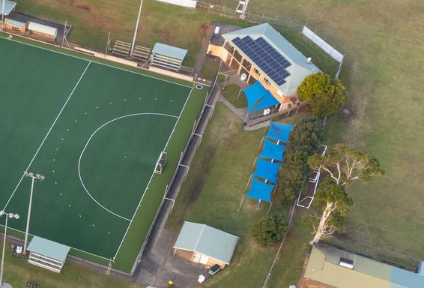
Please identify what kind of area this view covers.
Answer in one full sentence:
The picture captures a sports ground.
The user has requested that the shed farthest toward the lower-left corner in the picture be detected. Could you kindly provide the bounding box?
[172,220,239,269]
